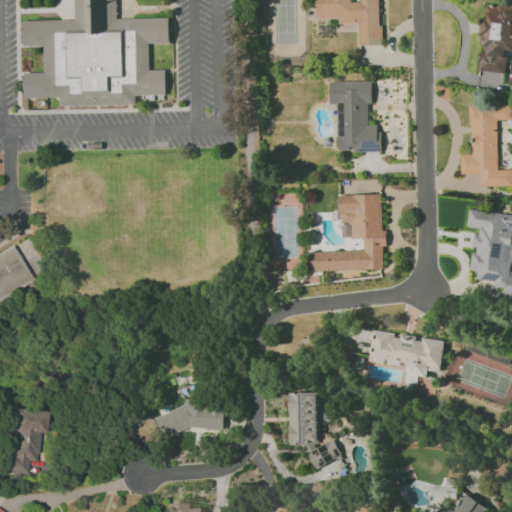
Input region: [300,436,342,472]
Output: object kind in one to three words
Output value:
building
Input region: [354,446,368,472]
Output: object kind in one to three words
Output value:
swimming pool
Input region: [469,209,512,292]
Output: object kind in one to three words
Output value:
house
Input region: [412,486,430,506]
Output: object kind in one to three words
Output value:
swimming pool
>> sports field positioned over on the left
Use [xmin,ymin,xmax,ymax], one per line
[46,150,247,296]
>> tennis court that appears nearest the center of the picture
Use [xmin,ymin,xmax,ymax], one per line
[271,195,304,272]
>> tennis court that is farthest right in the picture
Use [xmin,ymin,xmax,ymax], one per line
[448,350,512,405]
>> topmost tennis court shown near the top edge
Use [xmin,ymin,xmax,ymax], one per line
[271,0,310,58]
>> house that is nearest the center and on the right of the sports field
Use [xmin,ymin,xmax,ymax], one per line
[312,194,386,272]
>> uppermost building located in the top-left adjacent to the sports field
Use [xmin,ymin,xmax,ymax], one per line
[22,0,168,105]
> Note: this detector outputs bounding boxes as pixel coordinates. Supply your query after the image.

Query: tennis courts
[271,195,304,272]
[271,0,310,58]
[448,350,512,405]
